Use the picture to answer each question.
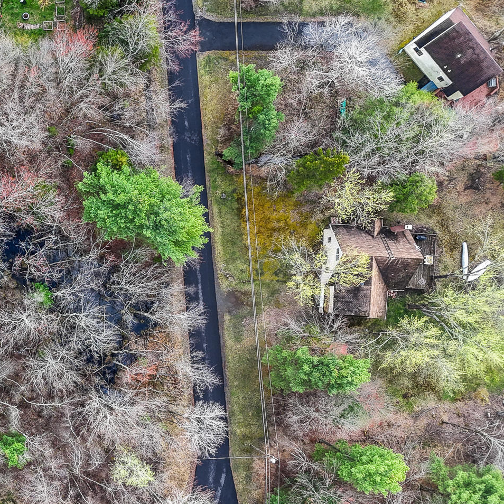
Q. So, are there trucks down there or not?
No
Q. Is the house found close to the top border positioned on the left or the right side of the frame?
right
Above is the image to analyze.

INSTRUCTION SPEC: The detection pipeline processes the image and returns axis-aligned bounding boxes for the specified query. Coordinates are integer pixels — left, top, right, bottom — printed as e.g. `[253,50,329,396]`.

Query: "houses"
[405,6,504,108]
[317,222,441,320]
